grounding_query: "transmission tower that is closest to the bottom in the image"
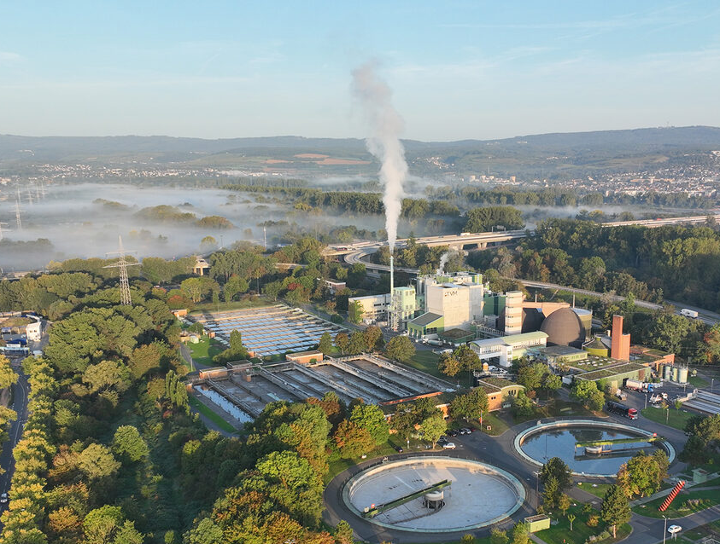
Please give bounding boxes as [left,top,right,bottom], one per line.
[112,237,134,307]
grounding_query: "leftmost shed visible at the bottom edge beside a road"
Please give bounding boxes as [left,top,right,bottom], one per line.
[525,510,548,533]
